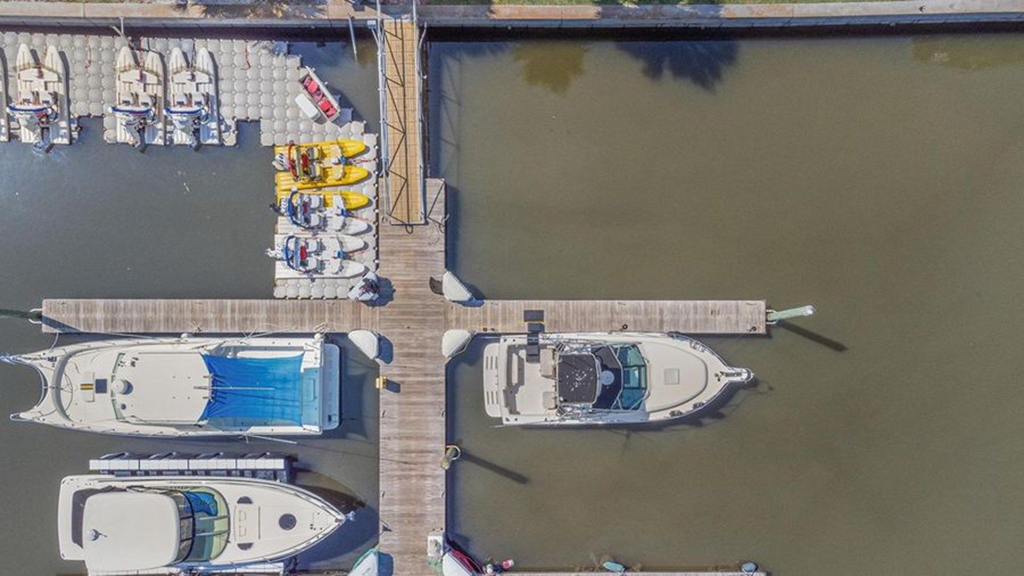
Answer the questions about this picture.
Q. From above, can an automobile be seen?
No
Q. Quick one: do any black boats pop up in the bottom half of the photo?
Yes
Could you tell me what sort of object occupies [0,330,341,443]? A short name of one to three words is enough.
boat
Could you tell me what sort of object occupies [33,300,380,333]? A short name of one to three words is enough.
pier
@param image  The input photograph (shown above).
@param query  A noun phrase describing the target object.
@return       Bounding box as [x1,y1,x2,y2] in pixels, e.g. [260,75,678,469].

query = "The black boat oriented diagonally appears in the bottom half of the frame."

[453,545,489,576]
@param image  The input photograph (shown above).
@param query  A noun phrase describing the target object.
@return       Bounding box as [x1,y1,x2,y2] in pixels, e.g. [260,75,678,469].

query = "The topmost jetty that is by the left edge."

[0,33,380,300]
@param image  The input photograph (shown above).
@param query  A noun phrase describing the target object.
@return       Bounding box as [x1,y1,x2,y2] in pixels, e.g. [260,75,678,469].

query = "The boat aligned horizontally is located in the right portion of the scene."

[484,332,755,428]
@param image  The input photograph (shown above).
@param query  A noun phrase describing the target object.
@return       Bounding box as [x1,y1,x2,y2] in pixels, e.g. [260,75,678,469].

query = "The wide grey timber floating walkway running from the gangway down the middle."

[347,180,478,576]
